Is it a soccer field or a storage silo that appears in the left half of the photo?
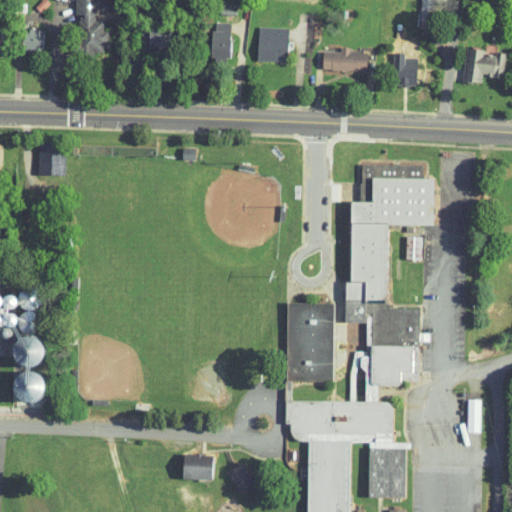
storage silo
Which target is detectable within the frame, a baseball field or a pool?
baseball field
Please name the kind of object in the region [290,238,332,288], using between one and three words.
roundabout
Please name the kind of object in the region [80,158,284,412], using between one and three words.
baseball field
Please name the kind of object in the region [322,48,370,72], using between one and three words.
house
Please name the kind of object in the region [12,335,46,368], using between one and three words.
silo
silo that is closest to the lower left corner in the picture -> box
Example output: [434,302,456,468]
[12,371,45,404]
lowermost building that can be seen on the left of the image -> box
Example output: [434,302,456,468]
[184,455,216,482]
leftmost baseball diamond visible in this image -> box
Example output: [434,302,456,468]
[79,334,144,400]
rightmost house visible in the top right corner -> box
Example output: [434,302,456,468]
[464,44,506,83]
